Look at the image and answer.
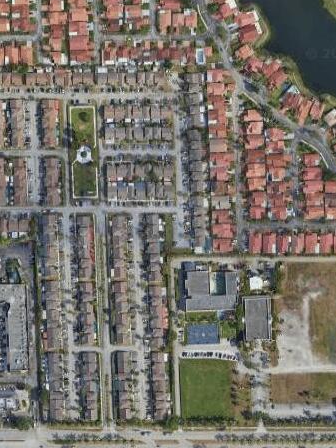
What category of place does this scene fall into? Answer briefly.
residential area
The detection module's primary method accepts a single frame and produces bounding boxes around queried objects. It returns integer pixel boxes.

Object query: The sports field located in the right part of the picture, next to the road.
[180,360,231,420]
